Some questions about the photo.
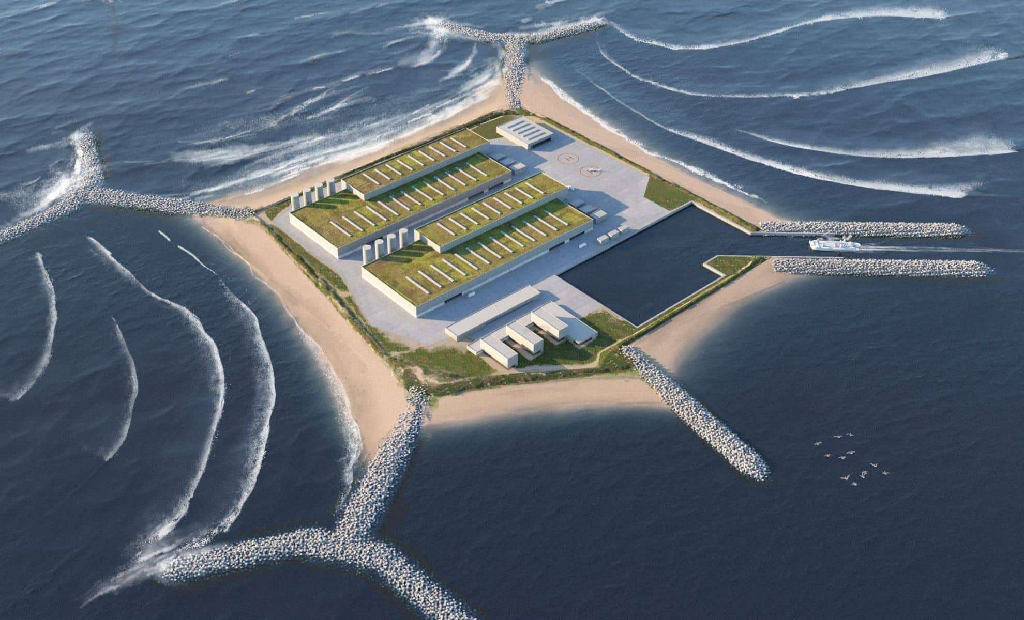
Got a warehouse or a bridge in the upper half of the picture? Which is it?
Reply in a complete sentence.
There is a warehouse in the upper half of the picture.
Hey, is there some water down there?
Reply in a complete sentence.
Yes, the picture does contain water.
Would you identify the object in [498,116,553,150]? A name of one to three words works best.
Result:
hangar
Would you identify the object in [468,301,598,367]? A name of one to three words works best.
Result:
building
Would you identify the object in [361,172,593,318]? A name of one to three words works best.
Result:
warehouse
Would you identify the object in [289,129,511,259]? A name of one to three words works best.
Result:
warehouse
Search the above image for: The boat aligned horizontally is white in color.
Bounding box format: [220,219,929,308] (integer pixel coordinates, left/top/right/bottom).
[810,232,862,251]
